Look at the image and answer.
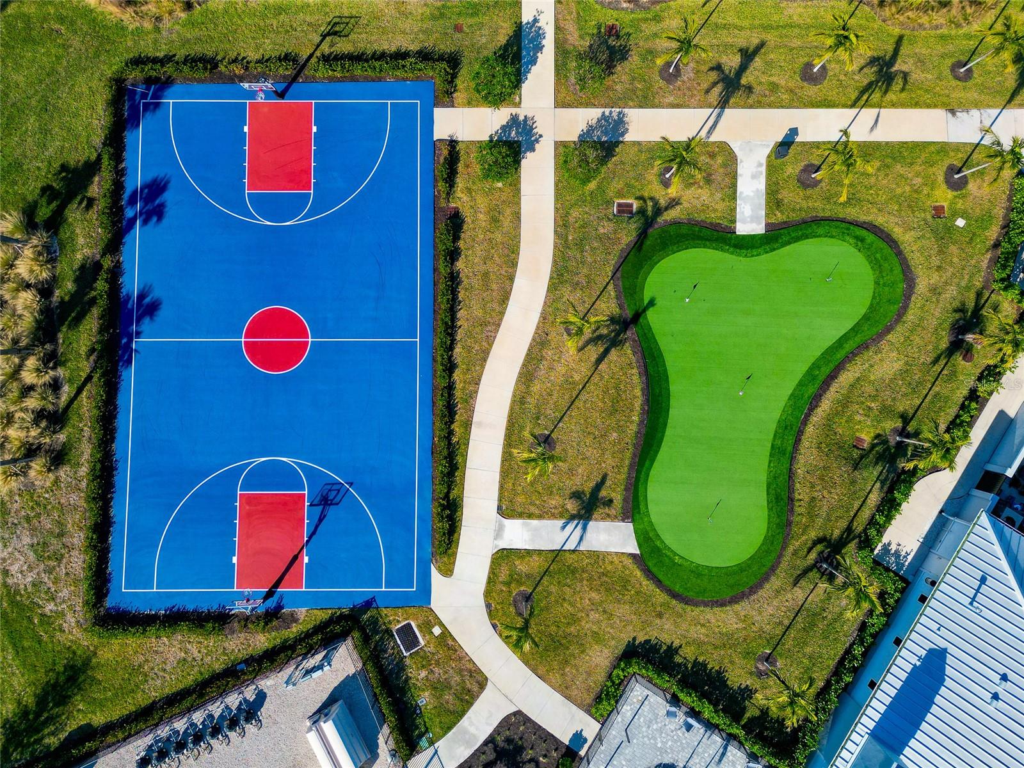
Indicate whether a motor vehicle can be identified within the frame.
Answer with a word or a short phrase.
No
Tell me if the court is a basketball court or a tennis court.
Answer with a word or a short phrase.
basketball court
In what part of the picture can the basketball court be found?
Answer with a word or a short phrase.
left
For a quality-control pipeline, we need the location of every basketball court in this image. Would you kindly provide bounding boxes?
[107,80,434,608]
